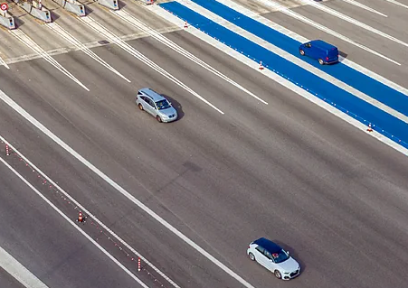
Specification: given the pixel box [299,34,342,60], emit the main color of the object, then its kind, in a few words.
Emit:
blue vehicle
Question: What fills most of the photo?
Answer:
paved ground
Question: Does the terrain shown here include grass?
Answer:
No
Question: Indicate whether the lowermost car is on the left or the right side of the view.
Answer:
right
